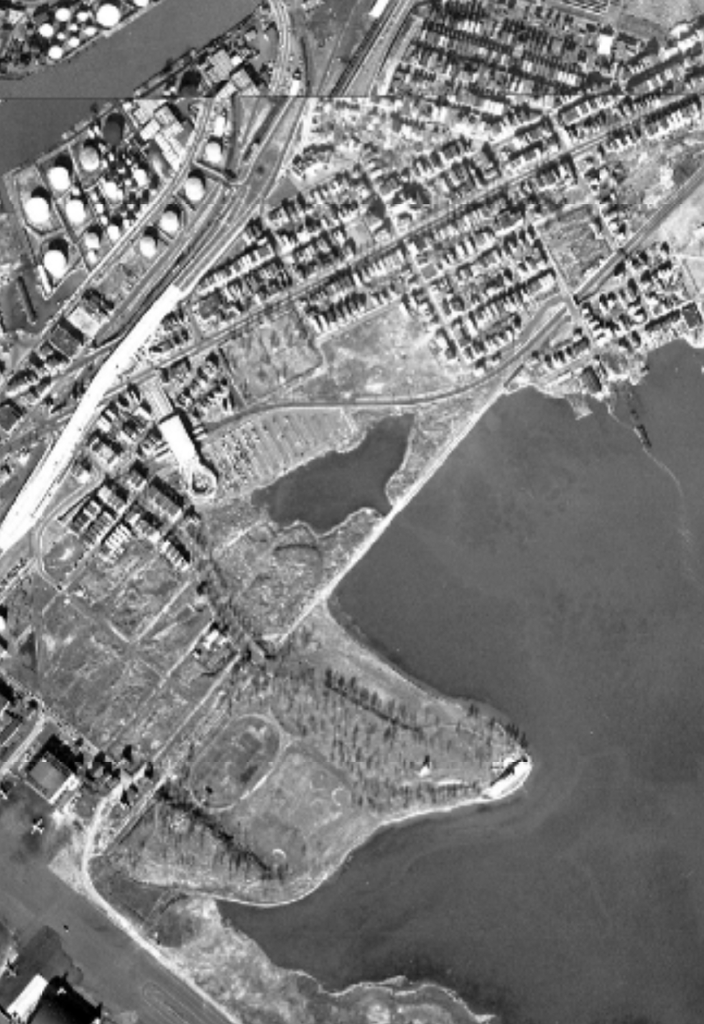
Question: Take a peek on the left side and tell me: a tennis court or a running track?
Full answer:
Looking on the left side, you will find a running track.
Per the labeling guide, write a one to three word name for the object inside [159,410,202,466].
building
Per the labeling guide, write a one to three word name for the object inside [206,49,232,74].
building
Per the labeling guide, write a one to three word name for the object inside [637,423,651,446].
ship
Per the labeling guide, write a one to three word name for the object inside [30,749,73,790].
hangar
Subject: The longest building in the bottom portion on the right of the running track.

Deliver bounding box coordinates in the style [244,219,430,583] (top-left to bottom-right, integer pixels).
[489,763,525,796]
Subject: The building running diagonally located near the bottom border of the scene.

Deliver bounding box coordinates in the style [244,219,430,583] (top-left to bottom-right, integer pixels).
[5,976,49,1023]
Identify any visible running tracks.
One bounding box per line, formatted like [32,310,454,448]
[186,709,282,816]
